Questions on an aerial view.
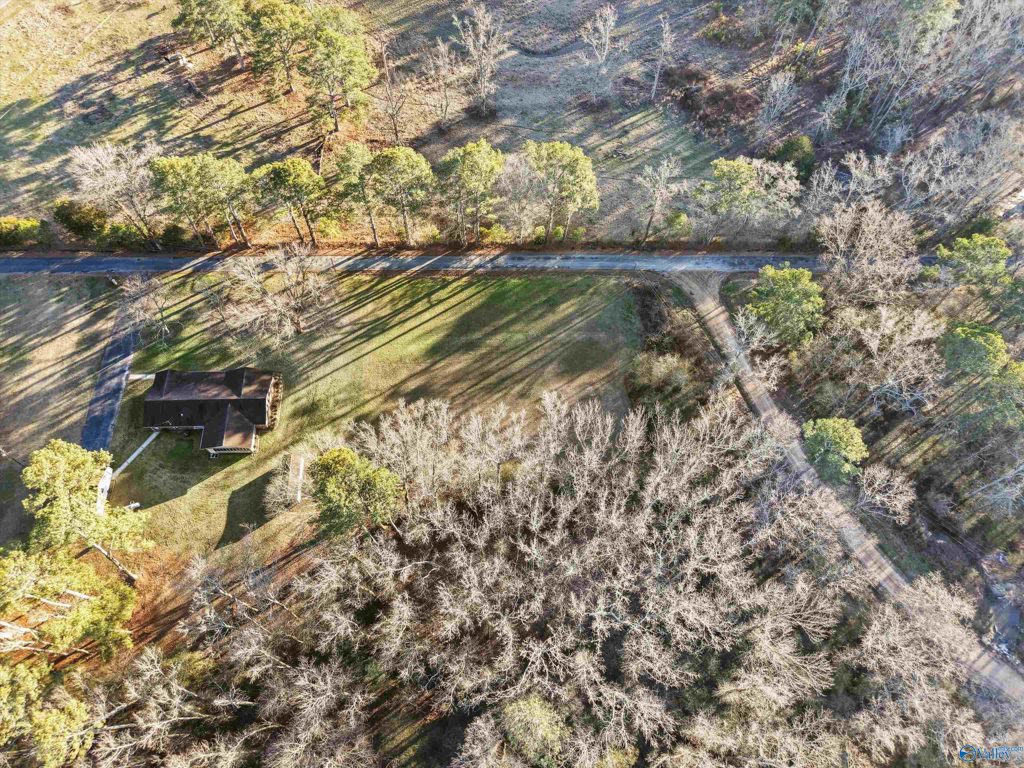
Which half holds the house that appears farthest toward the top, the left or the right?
left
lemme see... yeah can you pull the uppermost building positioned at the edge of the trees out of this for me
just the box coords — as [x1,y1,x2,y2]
[142,363,278,455]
